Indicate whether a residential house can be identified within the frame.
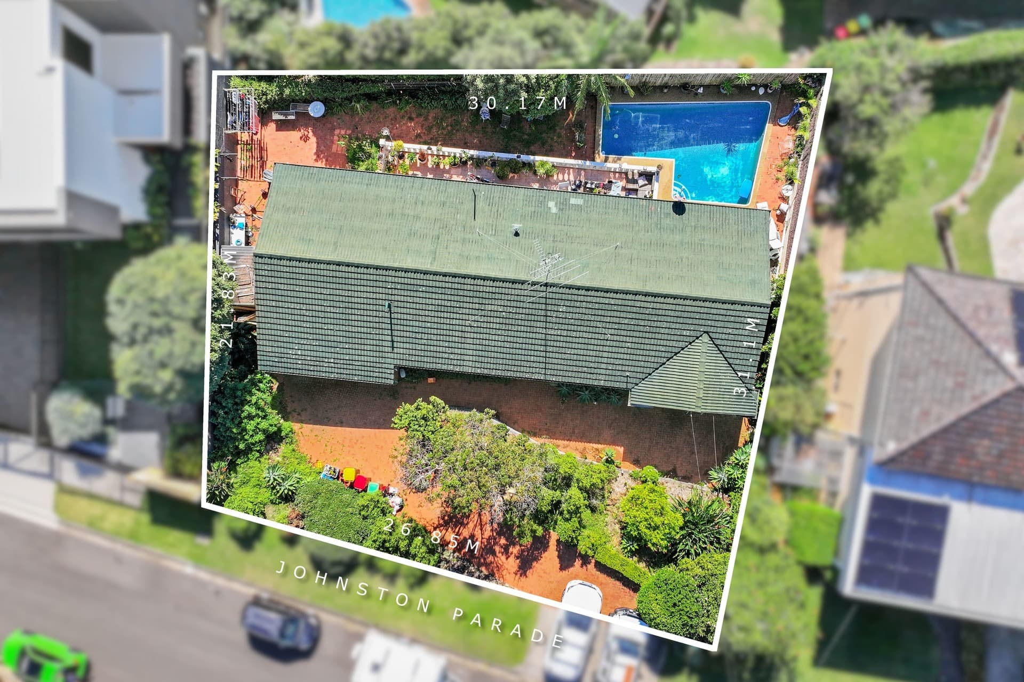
Yes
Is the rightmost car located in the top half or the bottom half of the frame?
bottom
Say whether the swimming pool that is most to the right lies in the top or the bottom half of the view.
top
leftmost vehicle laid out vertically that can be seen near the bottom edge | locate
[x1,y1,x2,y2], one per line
[549,577,600,682]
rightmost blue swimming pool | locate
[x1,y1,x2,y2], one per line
[600,99,771,205]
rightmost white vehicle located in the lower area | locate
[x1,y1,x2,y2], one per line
[601,612,649,682]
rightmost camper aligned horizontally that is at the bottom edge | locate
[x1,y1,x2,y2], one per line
[350,629,468,682]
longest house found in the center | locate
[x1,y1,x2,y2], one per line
[253,162,774,418]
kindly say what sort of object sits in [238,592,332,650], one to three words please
car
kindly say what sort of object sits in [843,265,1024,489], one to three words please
house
